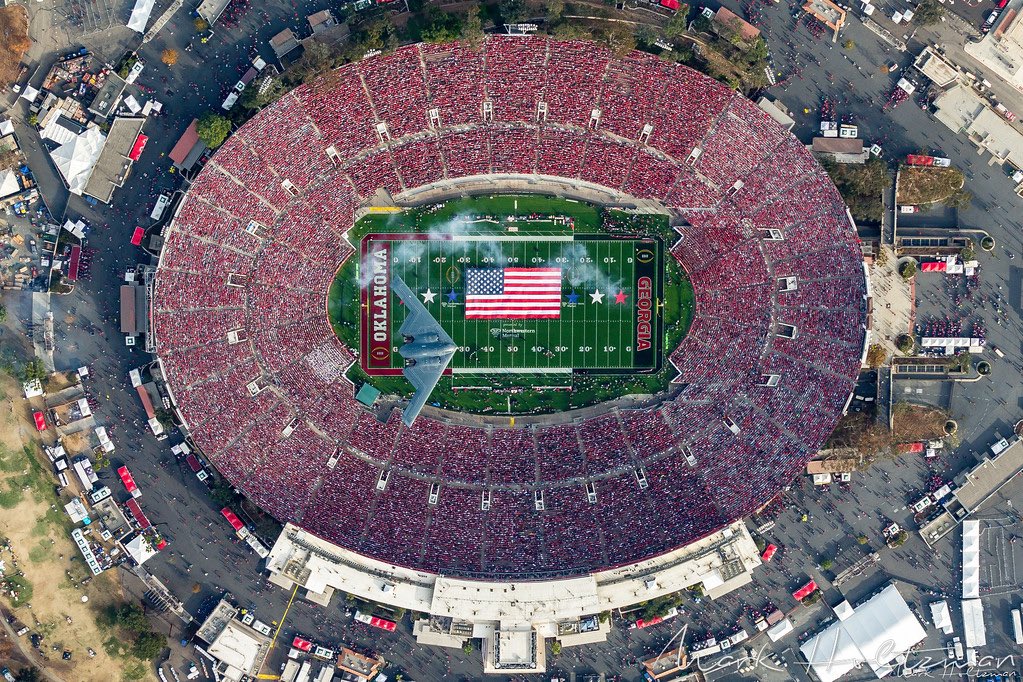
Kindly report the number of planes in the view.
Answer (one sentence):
My tally gives 1 plane in this photo.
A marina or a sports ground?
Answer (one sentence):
The area seen from above is a sports ground.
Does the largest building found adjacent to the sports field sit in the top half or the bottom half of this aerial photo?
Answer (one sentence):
Seen from above, the largest building found adjacent to the sports field lies in the bottom half of the view.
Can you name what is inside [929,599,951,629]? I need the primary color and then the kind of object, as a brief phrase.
white tent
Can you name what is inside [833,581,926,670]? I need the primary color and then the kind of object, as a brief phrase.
white tent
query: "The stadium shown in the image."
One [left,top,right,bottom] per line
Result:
[150,35,870,575]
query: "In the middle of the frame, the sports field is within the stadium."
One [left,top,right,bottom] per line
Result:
[328,194,693,414]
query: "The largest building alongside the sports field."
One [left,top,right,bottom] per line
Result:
[266,517,762,673]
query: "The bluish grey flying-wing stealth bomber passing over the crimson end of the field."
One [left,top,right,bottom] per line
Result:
[392,275,459,427]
